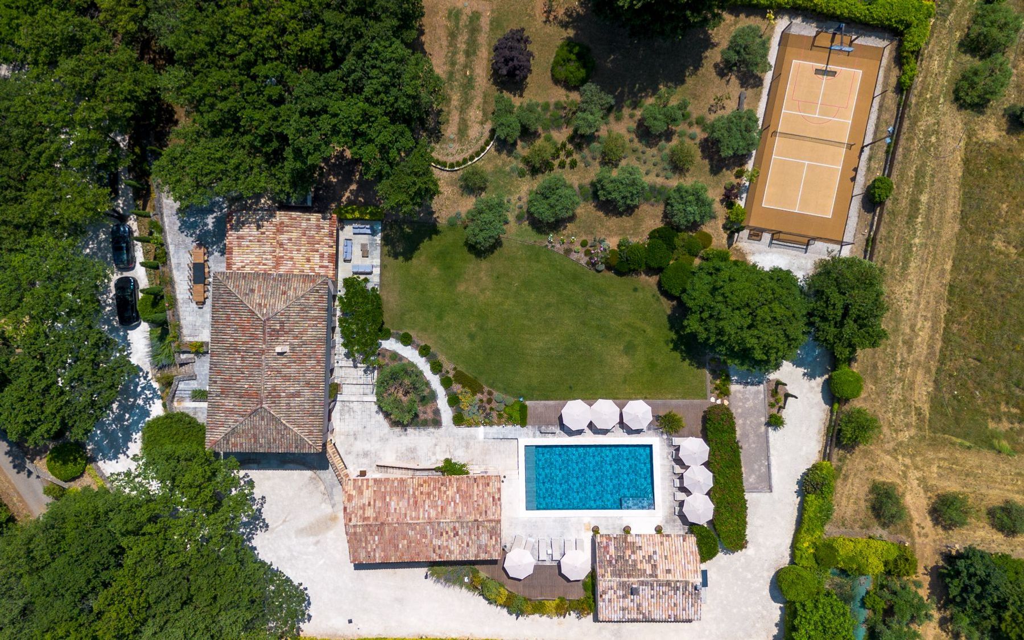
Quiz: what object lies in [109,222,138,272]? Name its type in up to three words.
car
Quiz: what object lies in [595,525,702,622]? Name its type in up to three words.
building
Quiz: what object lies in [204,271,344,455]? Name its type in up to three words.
house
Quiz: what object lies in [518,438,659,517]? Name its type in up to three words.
swimming pool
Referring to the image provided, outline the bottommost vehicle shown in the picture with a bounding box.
[113,277,143,327]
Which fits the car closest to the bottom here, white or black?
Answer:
black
